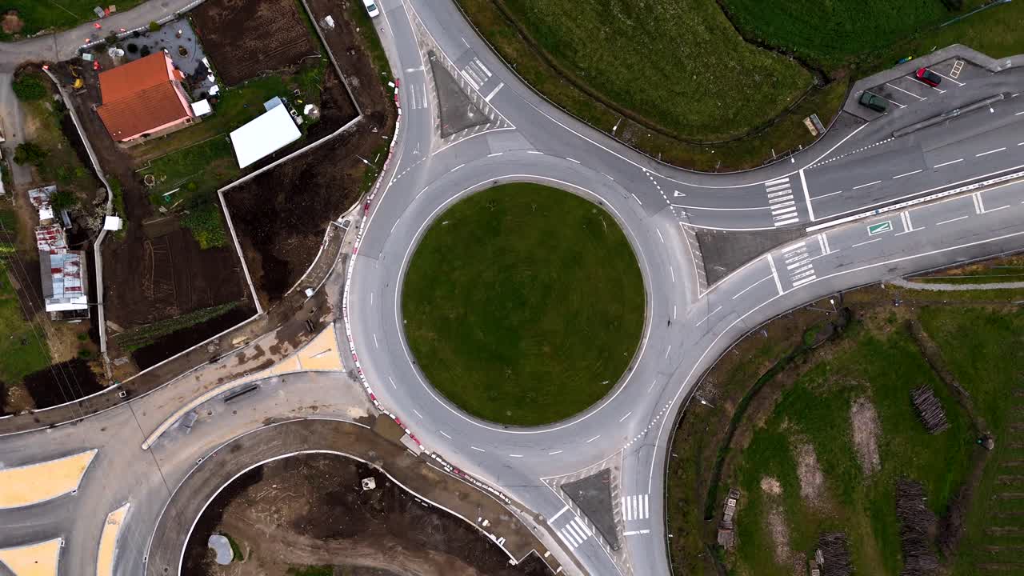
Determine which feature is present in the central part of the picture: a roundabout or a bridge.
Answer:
roundabout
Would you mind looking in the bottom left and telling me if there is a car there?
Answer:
No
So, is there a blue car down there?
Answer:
No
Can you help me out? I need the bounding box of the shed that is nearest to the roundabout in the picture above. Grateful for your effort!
[231,96,303,169]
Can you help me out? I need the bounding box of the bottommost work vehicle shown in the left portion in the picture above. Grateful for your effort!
[68,65,87,92]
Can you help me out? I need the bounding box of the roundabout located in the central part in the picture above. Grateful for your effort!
[349,128,700,480]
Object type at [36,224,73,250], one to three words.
shed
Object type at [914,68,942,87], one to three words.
car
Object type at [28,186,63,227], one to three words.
shed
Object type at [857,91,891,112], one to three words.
car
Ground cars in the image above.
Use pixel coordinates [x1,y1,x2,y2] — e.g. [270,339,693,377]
[914,68,942,87]
[363,0,380,19]
[857,91,891,112]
